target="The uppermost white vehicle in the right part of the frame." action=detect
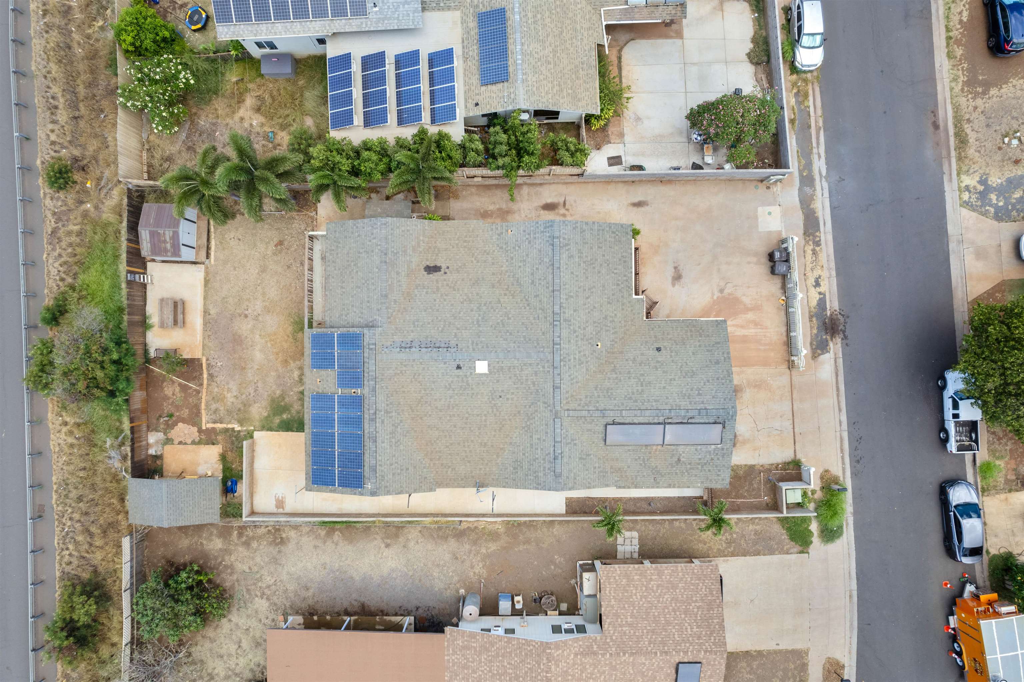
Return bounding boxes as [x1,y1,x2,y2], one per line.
[791,0,835,71]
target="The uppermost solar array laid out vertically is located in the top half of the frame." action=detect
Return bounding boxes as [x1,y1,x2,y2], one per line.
[478,6,508,84]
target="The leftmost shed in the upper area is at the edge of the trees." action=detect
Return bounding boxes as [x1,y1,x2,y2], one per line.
[138,203,207,261]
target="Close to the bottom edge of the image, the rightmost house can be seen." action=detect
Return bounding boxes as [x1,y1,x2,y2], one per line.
[444,559,727,682]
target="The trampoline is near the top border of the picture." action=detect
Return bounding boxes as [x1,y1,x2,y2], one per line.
[185,6,212,32]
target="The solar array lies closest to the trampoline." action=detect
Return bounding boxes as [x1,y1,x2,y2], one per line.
[210,0,368,25]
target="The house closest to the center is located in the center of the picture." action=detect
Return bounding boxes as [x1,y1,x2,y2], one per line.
[304,217,736,497]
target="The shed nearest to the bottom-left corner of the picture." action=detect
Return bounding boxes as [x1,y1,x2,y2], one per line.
[128,477,221,528]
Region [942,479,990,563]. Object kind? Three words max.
car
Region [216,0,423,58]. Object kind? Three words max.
house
